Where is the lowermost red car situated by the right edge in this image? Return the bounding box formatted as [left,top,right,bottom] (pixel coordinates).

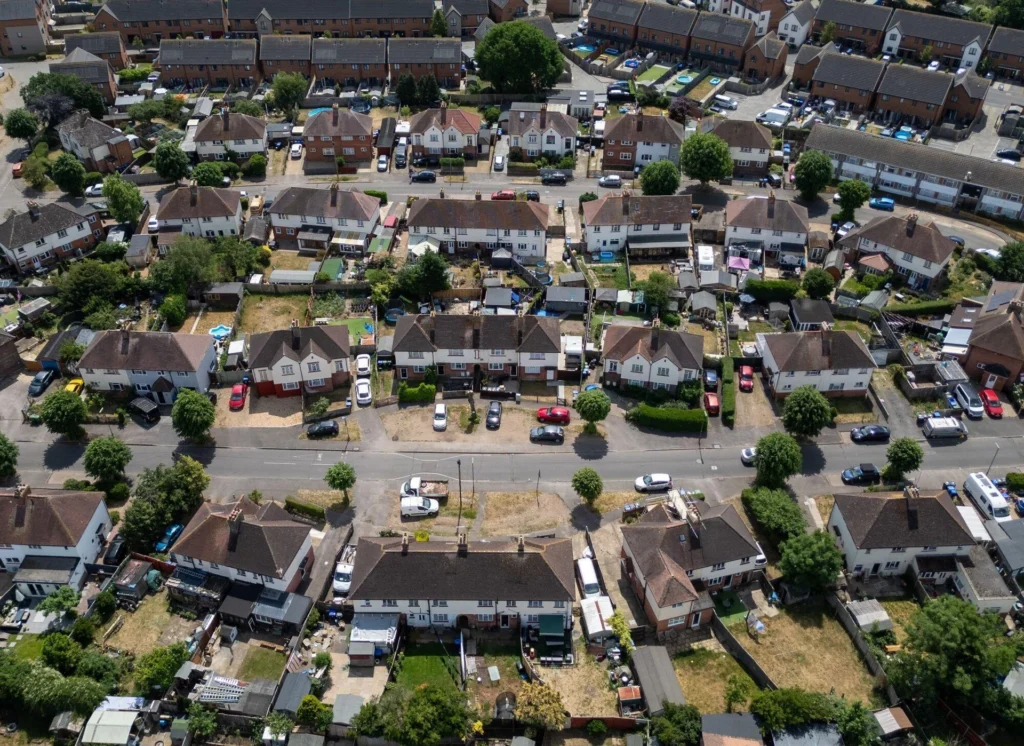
[981,391,1003,416]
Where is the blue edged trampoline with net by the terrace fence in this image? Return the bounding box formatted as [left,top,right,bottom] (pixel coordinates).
[531,261,555,286]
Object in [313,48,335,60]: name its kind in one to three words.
solar panel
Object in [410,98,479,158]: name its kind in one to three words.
house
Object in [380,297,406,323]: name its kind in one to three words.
trampoline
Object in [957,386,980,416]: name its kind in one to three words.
car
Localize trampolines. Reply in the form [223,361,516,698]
[350,93,372,112]
[380,297,406,323]
[490,678,519,717]
[531,261,555,286]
